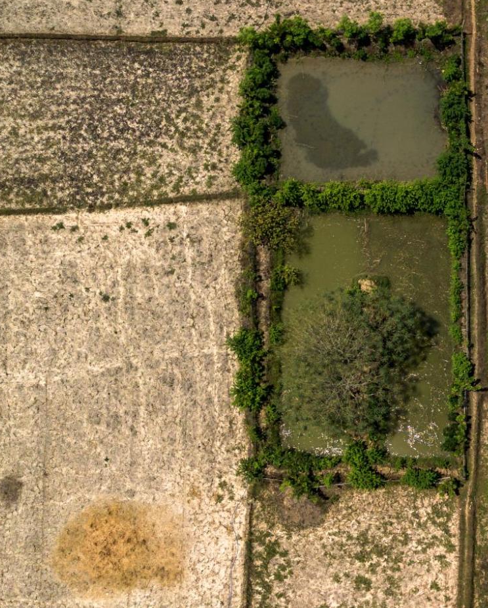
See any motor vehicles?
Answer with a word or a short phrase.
No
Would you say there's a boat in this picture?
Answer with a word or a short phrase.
No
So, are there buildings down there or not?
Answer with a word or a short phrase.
No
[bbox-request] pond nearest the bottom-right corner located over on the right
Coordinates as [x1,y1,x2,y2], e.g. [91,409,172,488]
[281,212,452,458]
